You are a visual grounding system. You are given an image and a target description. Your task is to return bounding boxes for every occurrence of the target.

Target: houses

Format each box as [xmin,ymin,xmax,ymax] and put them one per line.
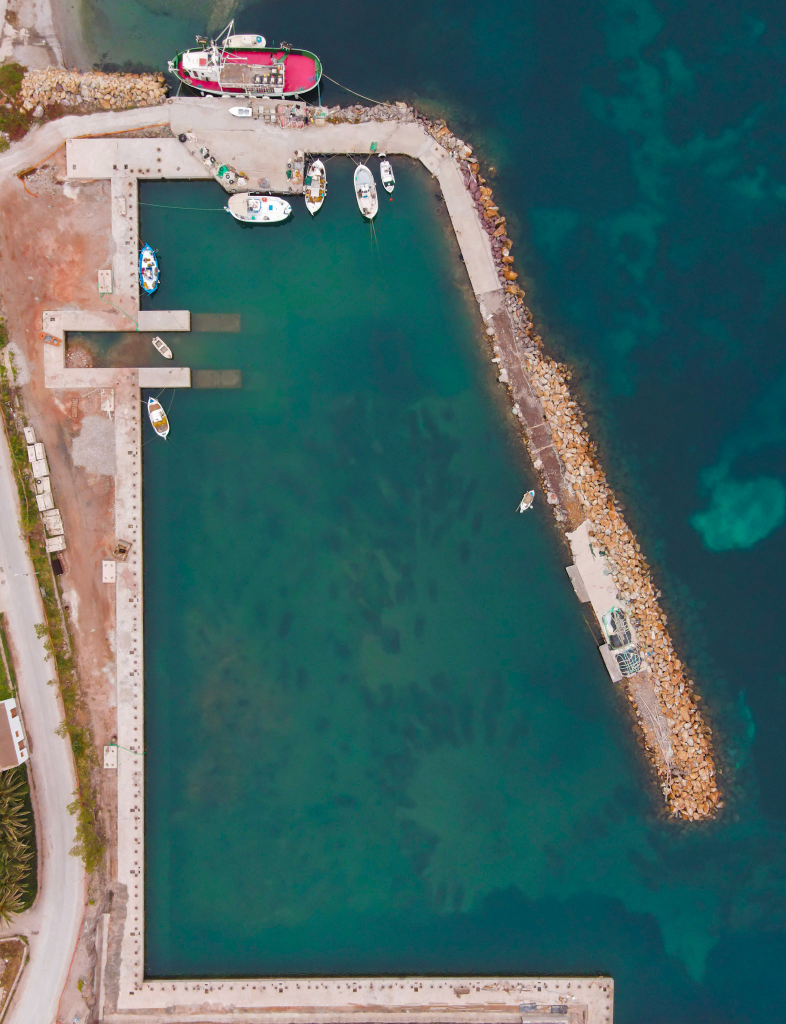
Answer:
[0,697,32,772]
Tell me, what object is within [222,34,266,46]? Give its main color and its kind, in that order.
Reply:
white boat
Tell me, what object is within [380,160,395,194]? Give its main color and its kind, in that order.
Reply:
white boat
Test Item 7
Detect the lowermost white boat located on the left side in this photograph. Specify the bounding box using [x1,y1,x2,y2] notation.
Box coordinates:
[148,396,168,440]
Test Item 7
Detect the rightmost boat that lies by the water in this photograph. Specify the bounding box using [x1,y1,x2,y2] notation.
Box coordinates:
[516,490,535,513]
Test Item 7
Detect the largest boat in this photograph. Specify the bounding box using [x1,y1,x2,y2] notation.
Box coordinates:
[168,20,323,101]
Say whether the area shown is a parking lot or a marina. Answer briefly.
marina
